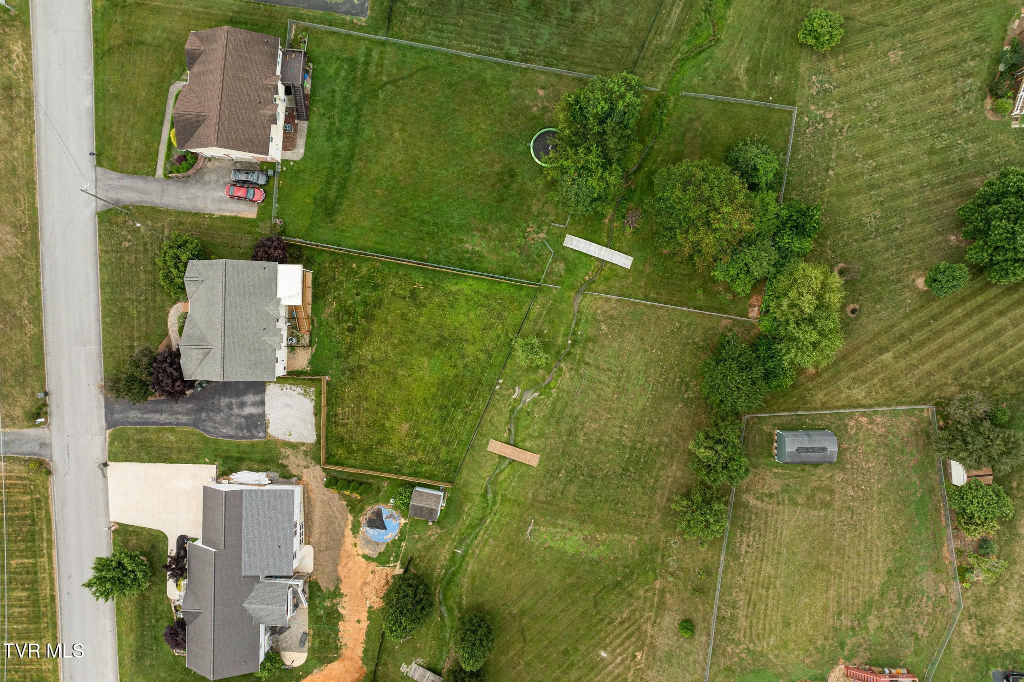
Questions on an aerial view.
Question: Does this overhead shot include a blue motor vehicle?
No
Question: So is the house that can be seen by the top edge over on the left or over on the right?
left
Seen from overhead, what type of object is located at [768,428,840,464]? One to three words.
shed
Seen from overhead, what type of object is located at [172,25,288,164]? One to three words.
house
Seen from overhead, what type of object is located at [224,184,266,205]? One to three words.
car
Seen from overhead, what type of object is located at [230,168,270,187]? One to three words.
car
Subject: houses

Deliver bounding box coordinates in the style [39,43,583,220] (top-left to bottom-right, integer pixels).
[175,258,288,382]
[172,25,288,164]
[178,484,305,681]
